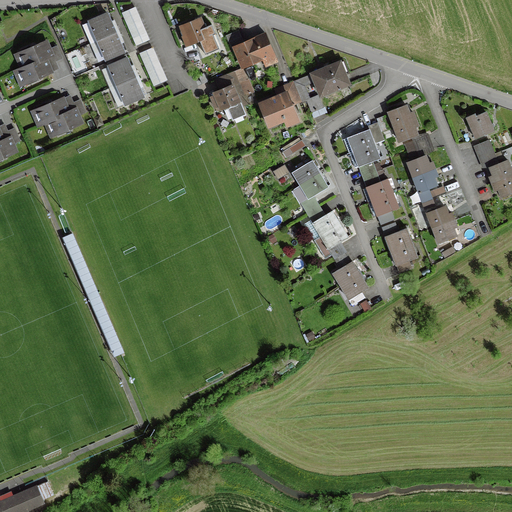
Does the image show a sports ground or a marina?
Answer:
sports ground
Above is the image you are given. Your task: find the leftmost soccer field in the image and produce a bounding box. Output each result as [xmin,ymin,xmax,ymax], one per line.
[0,178,136,478]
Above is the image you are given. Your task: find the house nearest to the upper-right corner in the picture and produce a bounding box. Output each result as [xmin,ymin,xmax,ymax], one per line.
[466,109,494,139]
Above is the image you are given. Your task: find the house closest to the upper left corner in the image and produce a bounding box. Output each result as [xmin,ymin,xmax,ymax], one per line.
[14,40,62,86]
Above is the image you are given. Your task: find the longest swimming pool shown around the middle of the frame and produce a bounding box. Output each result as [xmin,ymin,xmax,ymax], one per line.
[266,215,282,230]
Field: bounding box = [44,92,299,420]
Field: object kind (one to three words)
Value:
soccer field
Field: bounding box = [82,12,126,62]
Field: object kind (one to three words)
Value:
house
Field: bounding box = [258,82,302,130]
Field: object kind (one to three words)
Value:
house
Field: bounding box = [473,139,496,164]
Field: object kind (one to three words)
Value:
building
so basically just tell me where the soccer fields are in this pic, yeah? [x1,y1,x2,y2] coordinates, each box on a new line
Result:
[44,92,299,420]
[0,178,136,478]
